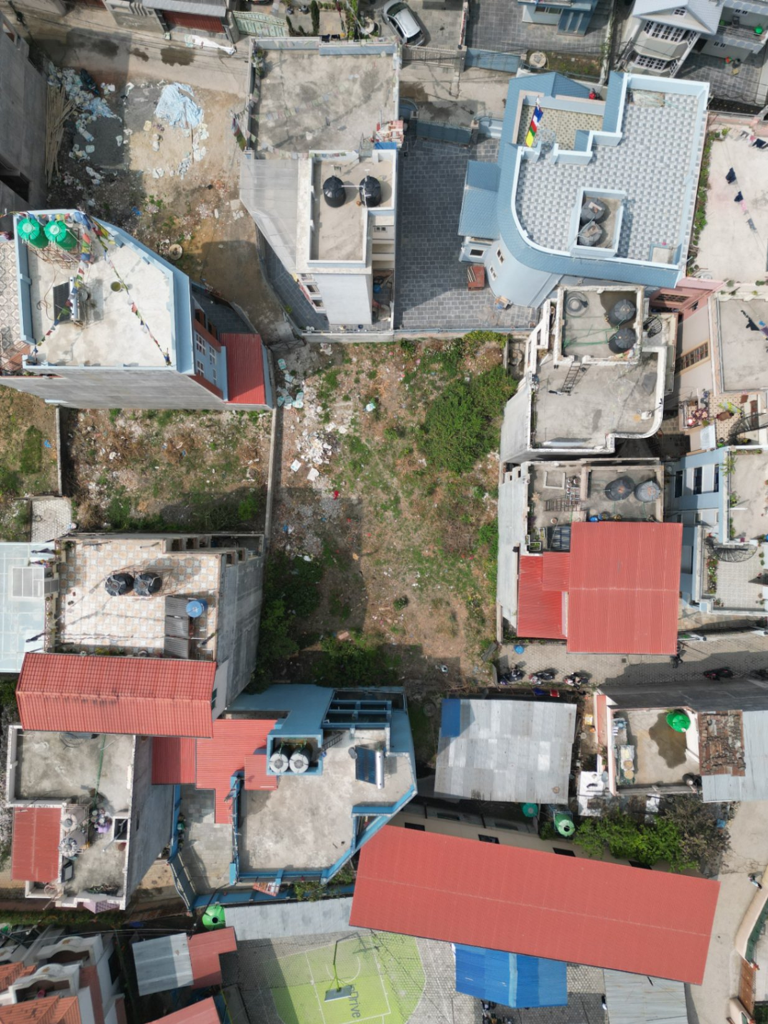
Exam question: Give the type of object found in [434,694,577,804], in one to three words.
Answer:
shed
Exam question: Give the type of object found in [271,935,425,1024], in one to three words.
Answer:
sports court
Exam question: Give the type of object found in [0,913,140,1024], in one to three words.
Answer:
house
